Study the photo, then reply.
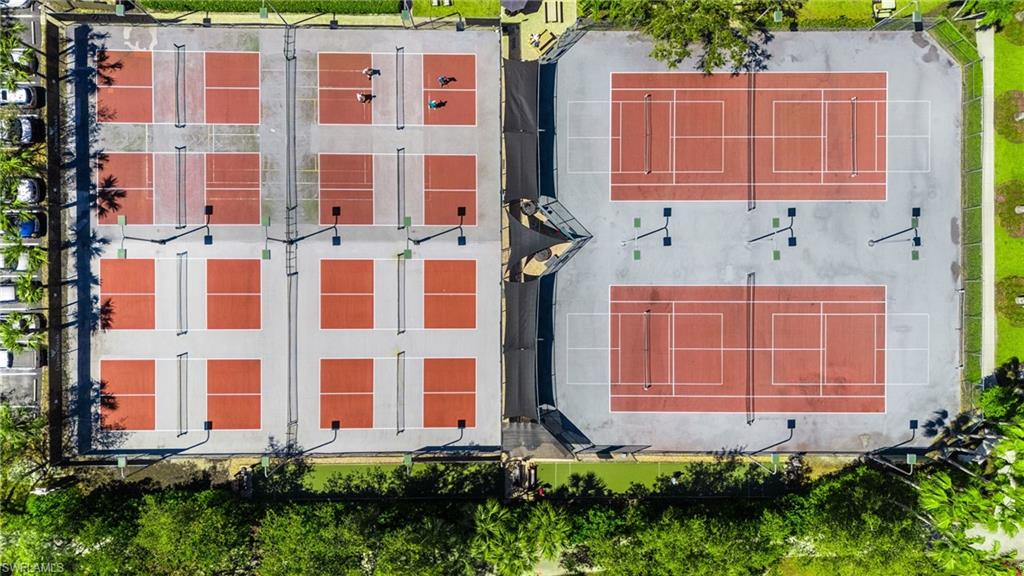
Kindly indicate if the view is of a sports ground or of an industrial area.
sports ground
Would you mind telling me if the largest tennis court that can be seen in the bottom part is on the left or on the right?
right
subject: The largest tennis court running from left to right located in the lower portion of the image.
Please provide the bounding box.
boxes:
[567,285,929,413]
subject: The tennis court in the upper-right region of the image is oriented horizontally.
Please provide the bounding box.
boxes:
[567,72,931,202]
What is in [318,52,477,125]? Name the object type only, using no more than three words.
sports court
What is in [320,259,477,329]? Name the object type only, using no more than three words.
sports court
